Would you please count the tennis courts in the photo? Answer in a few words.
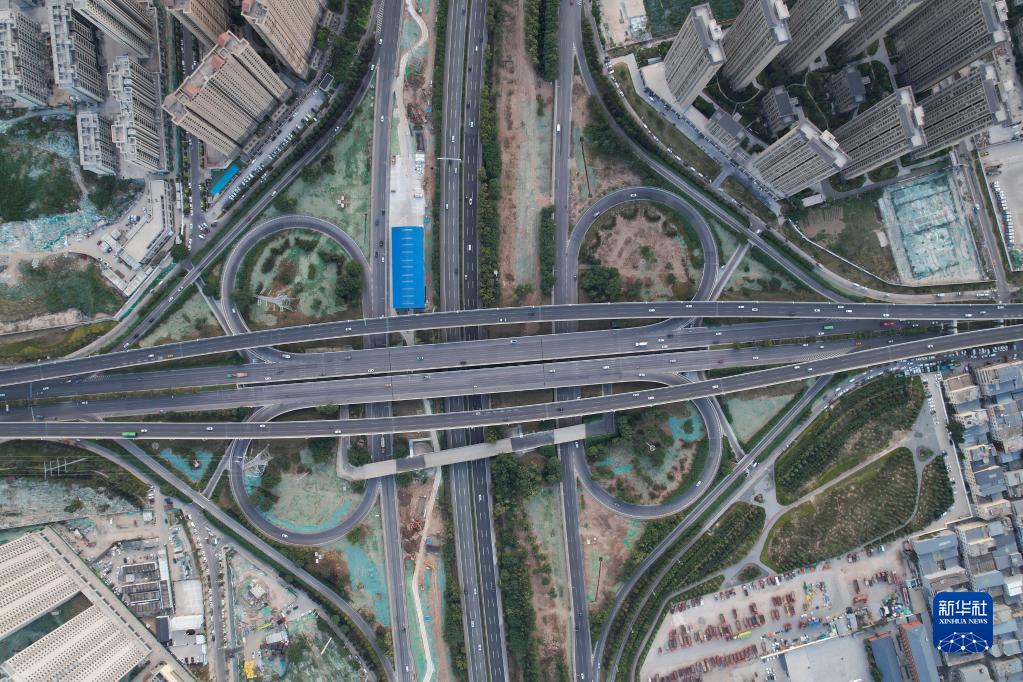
0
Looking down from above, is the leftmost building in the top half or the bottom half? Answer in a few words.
top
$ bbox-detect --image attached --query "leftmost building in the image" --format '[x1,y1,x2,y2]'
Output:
[0,9,50,108]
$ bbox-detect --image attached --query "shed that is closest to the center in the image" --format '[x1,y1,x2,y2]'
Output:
[392,226,427,309]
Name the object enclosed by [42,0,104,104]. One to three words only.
building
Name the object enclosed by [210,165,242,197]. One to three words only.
shed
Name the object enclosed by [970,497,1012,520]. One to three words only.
house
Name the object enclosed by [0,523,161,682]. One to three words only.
warehouse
